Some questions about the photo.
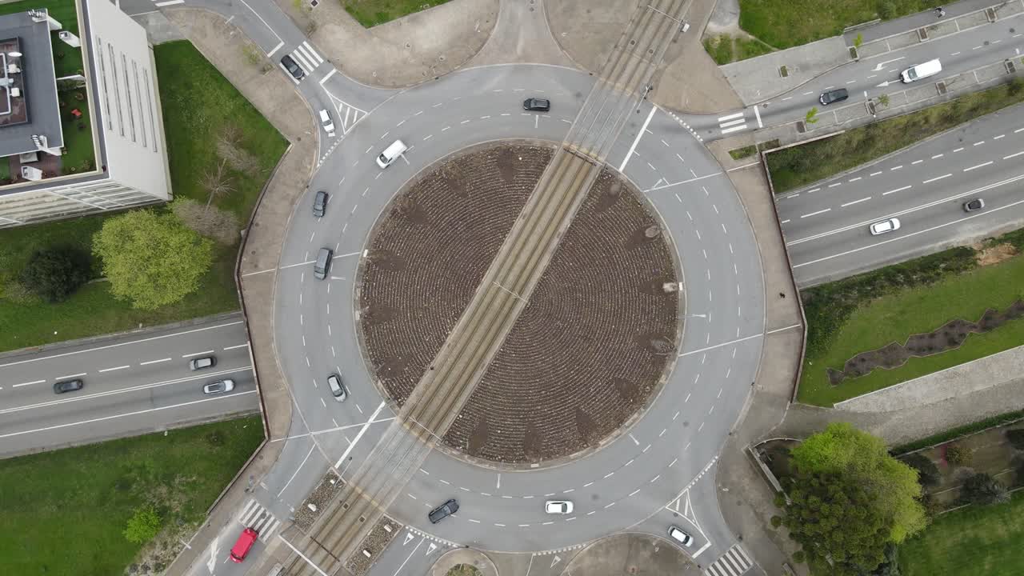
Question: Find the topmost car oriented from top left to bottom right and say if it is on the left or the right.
left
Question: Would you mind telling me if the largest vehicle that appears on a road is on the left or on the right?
right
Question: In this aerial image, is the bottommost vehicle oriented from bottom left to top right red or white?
red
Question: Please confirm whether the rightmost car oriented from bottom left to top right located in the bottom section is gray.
Yes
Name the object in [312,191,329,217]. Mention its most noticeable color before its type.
gray car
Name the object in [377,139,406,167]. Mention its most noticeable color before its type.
white vehicle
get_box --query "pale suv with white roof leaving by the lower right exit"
[667,524,693,546]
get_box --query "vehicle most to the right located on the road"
[961,197,984,212]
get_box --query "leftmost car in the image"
[54,378,85,394]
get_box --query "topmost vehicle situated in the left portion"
[280,54,305,80]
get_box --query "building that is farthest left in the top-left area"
[0,0,171,231]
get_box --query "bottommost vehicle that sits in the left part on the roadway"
[231,528,258,560]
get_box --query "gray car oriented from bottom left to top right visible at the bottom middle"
[428,499,458,524]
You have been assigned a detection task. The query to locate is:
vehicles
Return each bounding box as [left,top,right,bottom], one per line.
[428,499,458,524]
[319,109,336,134]
[545,500,573,514]
[312,191,329,217]
[190,356,218,371]
[667,524,693,546]
[231,528,258,560]
[818,88,849,105]
[523,97,550,112]
[377,139,406,167]
[900,57,946,83]
[204,379,235,394]
[961,197,984,212]
[280,54,305,80]
[868,218,899,235]
[54,378,85,394]
[326,374,347,401]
